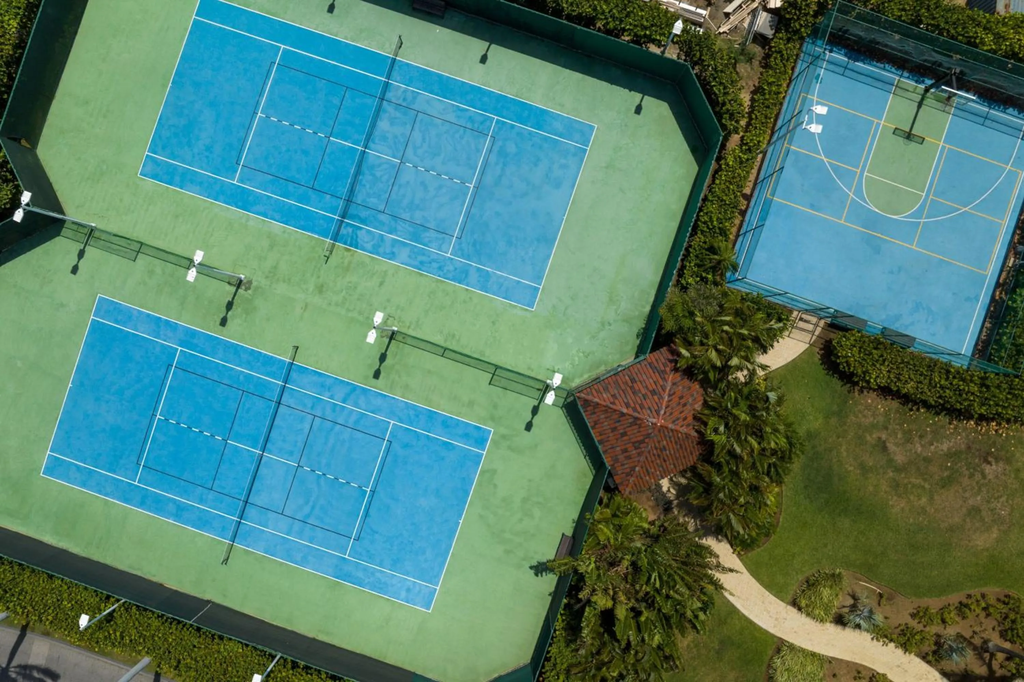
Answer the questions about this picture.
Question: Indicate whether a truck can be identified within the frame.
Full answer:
No, this view has no truck in it.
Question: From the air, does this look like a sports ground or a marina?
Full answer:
The picture captures a sports ground.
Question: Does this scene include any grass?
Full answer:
Yes, the picture does contain grass.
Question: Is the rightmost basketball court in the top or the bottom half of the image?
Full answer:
The rightmost basketball court sits in the top half of the picture.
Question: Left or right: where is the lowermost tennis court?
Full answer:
The lowermost tennis court is on the left side of the image.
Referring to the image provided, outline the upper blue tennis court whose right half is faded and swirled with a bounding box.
[37,0,706,389]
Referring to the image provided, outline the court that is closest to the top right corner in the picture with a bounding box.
[725,34,1024,367]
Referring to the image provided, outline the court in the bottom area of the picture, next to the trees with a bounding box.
[0,220,598,682]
